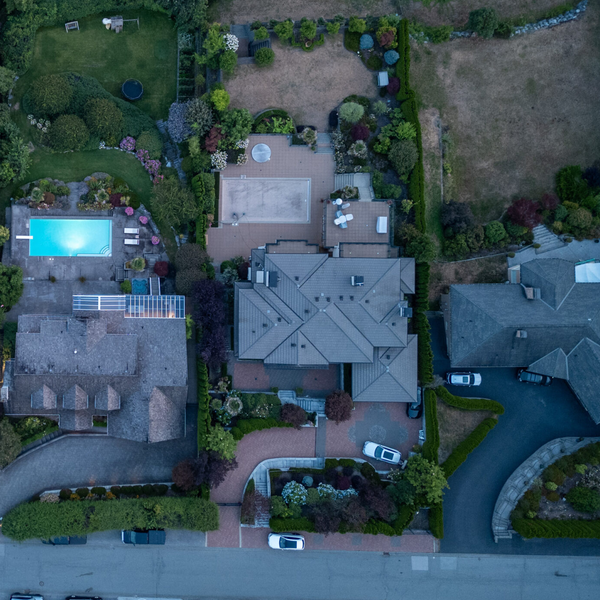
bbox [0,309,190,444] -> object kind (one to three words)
house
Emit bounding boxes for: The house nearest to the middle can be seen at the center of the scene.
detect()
[231,249,418,403]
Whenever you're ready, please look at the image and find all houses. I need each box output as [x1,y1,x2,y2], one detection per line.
[0,309,190,444]
[437,259,600,424]
[231,249,418,403]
